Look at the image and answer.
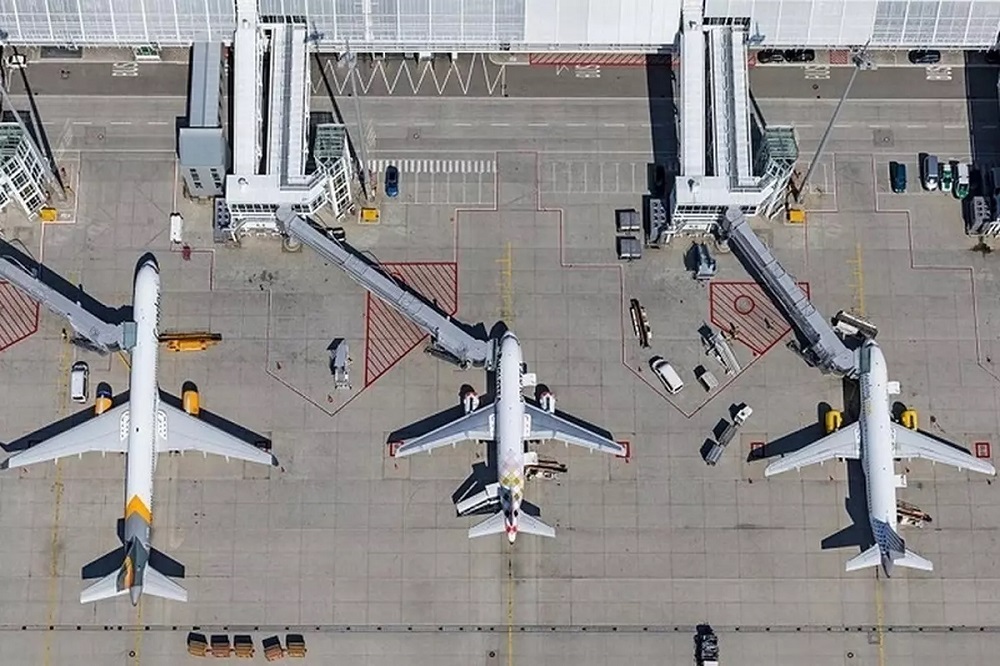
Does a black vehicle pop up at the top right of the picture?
Yes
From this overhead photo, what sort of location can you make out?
airport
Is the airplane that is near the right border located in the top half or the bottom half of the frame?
bottom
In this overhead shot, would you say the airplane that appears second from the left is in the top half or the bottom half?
bottom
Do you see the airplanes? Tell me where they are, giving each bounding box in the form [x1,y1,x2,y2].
[394,332,627,541]
[761,339,997,573]
[0,256,276,604]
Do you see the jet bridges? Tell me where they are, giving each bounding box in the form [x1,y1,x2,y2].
[0,256,139,367]
[272,208,498,376]
[718,209,873,380]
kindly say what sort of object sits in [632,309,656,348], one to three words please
work vehicle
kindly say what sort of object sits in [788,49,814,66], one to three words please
car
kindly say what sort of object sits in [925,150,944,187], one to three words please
vehicle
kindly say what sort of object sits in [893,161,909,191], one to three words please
car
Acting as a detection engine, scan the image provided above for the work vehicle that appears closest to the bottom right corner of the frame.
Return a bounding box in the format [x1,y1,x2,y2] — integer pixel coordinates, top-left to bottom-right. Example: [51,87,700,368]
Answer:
[896,506,934,532]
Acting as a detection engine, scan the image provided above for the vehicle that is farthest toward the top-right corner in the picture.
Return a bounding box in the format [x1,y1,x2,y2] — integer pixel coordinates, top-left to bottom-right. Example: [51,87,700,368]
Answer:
[912,49,942,67]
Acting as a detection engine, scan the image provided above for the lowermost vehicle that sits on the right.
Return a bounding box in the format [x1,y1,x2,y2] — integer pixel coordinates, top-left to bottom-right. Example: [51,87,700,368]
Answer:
[699,631,721,666]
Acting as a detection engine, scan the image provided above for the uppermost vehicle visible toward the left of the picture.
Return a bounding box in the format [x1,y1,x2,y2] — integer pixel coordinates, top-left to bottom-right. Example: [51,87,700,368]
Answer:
[385,165,399,196]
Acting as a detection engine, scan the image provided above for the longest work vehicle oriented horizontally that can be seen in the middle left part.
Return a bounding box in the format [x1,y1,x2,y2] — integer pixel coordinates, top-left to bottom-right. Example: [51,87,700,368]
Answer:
[161,339,219,364]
